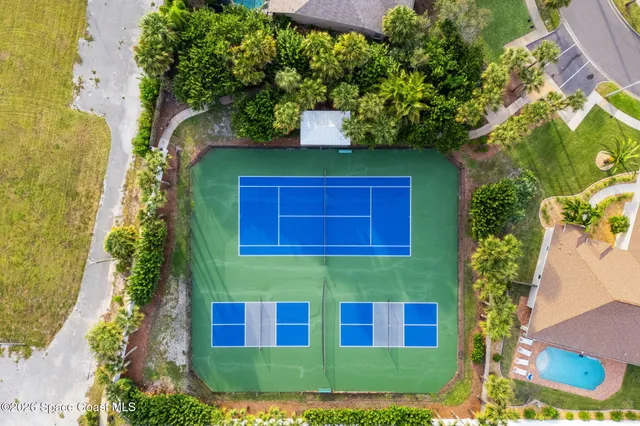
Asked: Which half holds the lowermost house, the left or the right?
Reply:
right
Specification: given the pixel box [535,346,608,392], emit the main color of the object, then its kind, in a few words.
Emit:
blue swimming pool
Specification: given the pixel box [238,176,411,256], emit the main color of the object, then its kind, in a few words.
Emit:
blue tennis court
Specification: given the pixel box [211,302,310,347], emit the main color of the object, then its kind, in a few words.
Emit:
blue sports court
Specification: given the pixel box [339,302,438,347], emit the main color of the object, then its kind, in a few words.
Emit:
blue sports court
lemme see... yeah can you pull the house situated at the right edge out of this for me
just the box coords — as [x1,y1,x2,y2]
[521,153,640,365]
